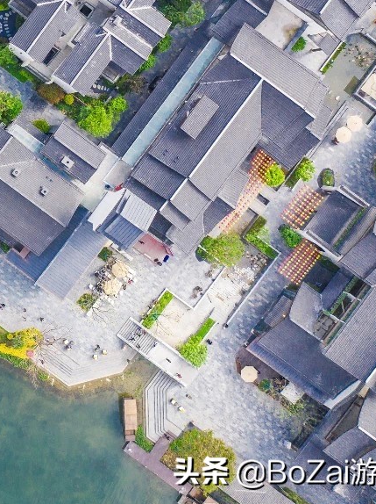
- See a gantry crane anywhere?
No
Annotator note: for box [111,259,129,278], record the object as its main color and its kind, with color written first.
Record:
white umbrella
